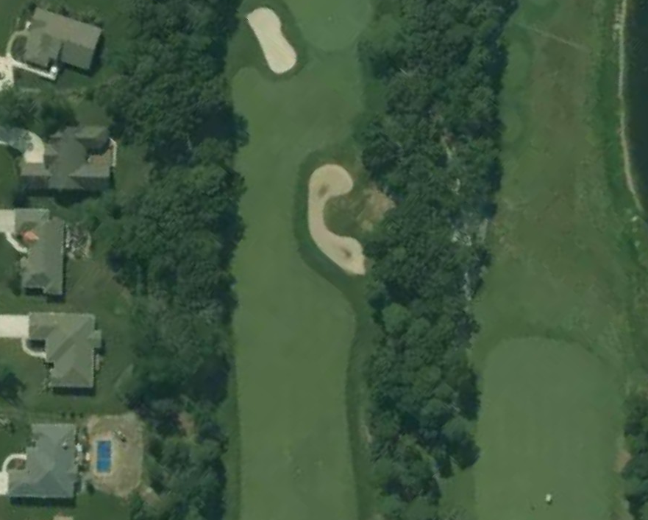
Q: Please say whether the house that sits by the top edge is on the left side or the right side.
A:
left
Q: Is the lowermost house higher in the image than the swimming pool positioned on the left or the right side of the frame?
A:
left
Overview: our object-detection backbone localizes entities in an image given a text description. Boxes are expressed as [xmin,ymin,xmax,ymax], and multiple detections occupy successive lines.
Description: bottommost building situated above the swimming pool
[28,312,101,388]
